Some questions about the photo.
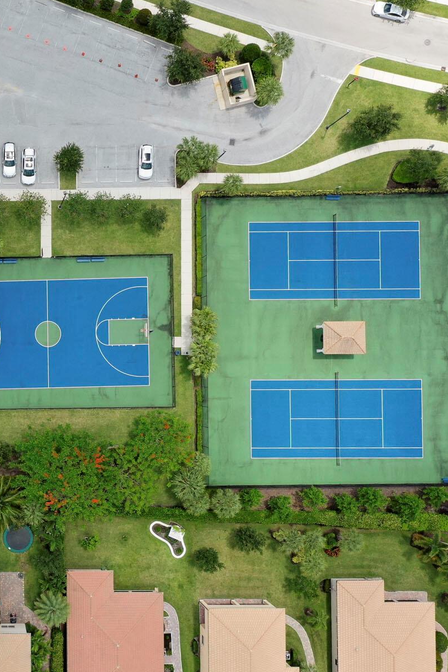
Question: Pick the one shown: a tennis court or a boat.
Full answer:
It is a tennis court that can be seen here.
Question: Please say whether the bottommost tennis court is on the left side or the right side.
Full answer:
The bottommost tennis court is on the right side of the image.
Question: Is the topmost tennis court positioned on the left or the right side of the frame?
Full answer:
You can find the topmost tennis court on the right side of the picture.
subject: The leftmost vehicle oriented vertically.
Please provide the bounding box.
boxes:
[1,140,17,177]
